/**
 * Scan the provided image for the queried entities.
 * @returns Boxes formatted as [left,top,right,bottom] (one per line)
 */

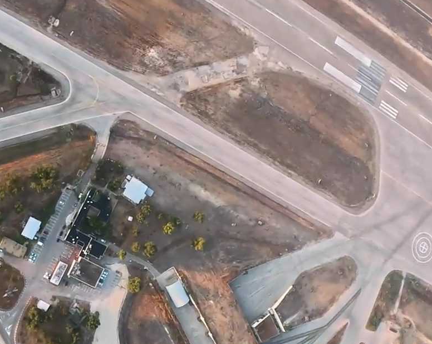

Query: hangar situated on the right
[255,317,280,340]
